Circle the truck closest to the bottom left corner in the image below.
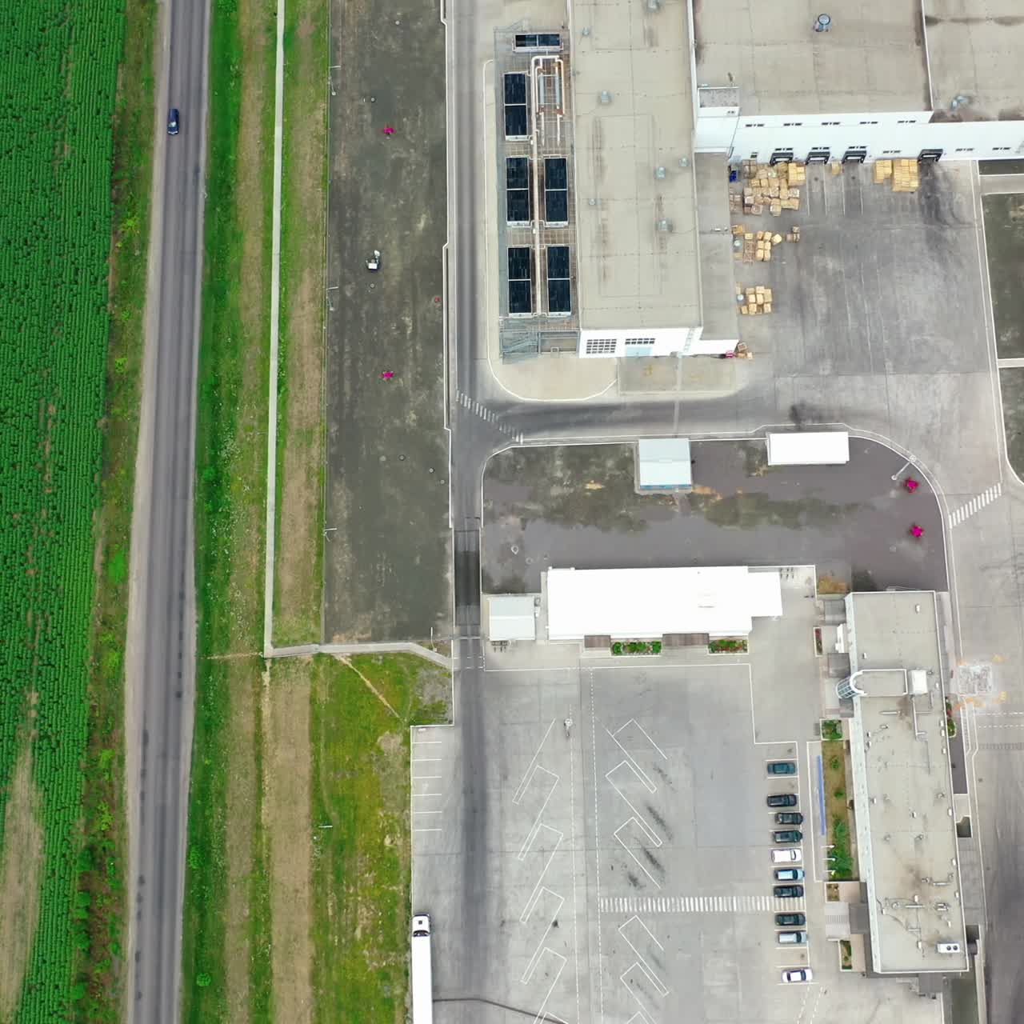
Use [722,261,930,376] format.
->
[412,919,433,1024]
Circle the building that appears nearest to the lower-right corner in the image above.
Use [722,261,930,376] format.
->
[843,590,969,972]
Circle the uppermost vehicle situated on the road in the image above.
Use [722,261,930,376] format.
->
[167,111,180,134]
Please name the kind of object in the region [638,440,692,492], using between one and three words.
building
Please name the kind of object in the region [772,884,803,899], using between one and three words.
car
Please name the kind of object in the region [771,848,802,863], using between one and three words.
car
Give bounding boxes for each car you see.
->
[781,968,812,983]
[777,929,807,944]
[774,811,803,826]
[774,868,805,882]
[774,913,806,928]
[773,829,802,844]
[765,793,797,808]
[167,111,180,134]
[771,848,802,863]
[765,761,794,775]
[772,884,803,899]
